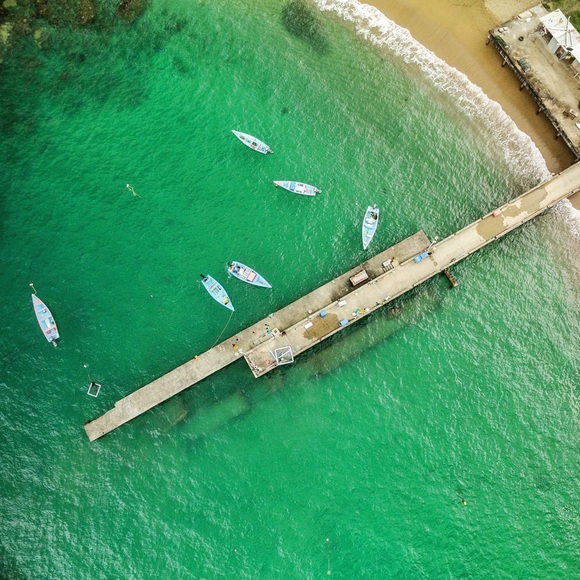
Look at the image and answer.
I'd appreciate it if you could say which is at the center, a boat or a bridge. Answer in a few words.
boat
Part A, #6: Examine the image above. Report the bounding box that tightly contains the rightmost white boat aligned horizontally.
[274,180,321,195]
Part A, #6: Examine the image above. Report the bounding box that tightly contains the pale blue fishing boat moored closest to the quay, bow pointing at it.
[362,202,378,250]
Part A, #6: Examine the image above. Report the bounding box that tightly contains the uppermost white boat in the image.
[231,130,272,155]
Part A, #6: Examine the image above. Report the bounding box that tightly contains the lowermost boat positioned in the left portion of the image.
[31,294,59,344]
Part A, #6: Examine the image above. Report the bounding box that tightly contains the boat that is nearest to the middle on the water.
[226,262,271,288]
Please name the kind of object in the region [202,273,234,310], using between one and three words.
boat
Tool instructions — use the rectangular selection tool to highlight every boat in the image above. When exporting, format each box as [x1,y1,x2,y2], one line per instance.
[231,130,272,155]
[31,294,59,344]
[362,202,378,250]
[274,180,321,195]
[202,273,234,310]
[226,262,271,288]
